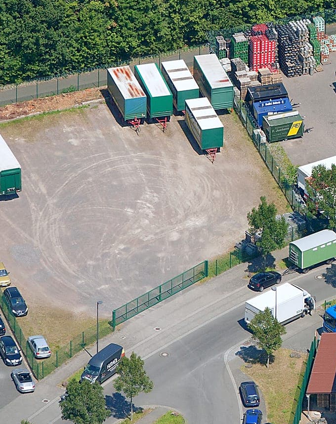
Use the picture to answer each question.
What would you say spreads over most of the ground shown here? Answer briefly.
paved ground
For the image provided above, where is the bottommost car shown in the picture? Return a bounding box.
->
[244,410,263,424]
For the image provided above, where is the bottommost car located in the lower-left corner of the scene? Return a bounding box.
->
[10,365,36,392]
